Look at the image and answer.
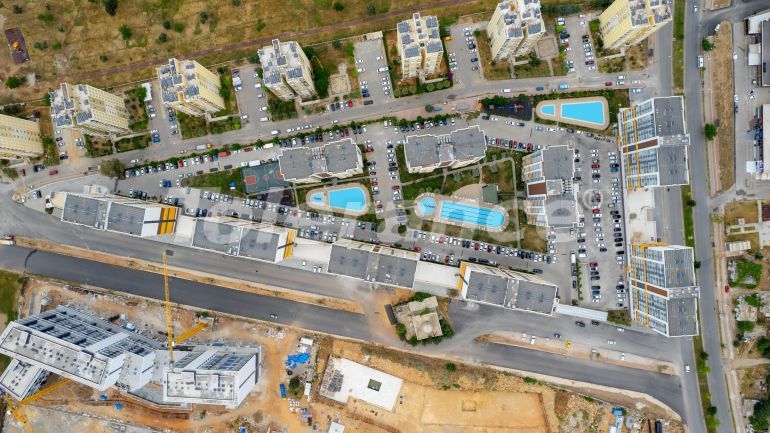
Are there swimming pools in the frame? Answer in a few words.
Yes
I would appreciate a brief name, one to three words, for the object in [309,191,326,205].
swimming pool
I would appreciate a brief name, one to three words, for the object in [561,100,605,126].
swimming pool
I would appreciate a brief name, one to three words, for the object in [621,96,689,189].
building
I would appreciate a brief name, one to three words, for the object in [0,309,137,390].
building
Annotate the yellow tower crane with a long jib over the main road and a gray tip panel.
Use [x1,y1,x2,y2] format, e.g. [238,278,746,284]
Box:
[162,249,211,366]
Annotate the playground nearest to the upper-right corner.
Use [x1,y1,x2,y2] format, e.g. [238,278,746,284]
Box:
[486,98,531,120]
